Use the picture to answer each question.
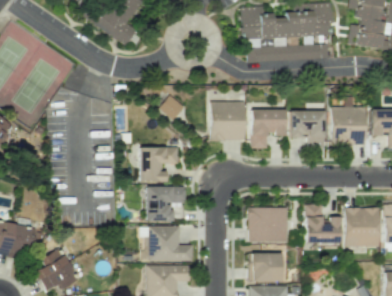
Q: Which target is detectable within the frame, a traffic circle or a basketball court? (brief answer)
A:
traffic circle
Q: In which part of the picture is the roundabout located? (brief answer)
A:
top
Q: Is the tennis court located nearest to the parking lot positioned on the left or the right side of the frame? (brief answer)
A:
left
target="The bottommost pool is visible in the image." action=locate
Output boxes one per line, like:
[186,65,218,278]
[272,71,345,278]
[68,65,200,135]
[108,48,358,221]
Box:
[94,260,112,277]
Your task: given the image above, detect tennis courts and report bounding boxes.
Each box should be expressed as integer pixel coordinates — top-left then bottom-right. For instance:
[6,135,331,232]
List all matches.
[0,22,42,108]
[0,44,73,130]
